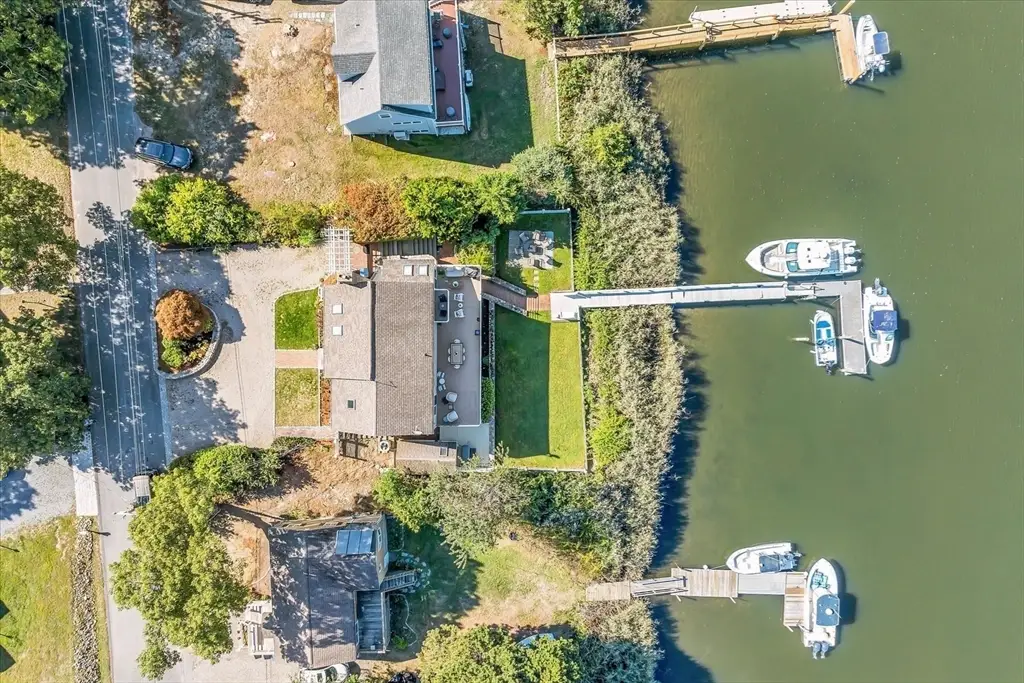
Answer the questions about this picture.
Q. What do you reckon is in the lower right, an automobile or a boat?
boat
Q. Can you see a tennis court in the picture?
No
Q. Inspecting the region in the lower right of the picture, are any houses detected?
No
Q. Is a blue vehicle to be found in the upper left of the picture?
Yes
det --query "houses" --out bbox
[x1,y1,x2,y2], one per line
[314,254,439,436]
[333,0,445,131]
[269,516,390,664]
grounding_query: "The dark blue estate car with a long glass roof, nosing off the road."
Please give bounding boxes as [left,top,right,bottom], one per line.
[135,137,197,173]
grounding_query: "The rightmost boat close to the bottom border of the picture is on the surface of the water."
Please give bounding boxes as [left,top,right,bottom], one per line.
[804,557,841,653]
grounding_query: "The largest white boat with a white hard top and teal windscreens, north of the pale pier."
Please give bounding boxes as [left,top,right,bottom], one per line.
[745,238,861,280]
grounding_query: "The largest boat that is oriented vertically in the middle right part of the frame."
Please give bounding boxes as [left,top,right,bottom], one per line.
[862,283,898,364]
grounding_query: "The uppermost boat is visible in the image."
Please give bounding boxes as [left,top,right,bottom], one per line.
[858,14,890,82]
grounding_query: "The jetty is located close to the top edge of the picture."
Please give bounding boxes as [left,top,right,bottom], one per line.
[547,13,832,63]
